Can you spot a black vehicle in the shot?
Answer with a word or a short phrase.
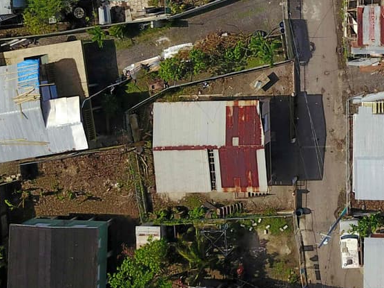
No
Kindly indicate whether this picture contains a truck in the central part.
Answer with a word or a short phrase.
No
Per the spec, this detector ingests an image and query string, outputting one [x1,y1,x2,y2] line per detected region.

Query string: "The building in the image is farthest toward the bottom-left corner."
[7,212,112,288]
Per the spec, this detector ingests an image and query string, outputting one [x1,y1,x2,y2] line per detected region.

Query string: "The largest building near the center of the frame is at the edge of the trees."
[154,86,275,192]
